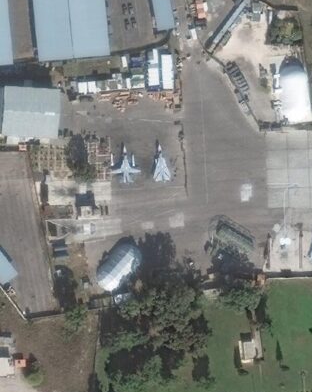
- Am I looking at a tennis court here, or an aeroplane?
aeroplane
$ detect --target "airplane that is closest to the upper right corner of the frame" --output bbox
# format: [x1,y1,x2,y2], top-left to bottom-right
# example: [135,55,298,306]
[155,143,172,182]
